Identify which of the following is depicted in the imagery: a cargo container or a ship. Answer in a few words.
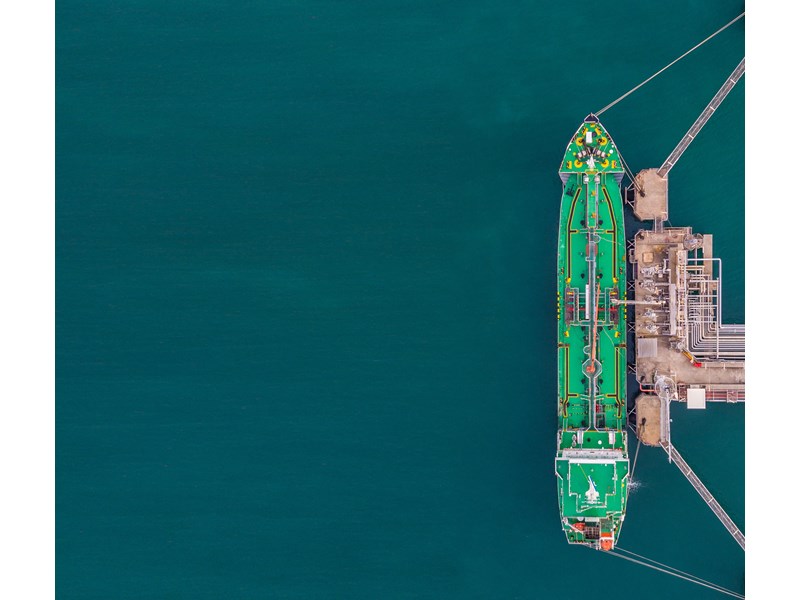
ship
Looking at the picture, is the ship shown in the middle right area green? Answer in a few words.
Yes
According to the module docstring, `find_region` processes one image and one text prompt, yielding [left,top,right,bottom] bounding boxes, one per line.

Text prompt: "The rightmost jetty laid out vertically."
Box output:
[703,234,716,330]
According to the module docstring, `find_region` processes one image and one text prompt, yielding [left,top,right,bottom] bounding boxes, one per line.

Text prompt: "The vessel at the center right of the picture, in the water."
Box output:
[555,113,630,550]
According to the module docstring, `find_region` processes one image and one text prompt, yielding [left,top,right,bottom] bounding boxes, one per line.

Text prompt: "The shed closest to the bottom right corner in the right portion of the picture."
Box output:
[687,389,705,409]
